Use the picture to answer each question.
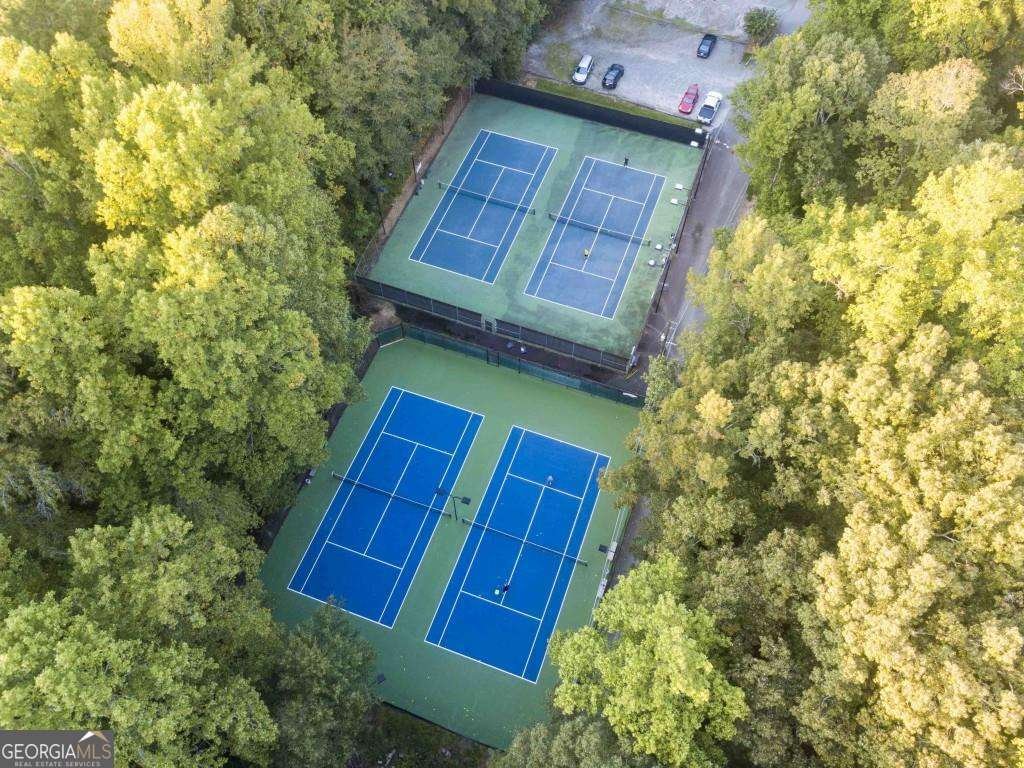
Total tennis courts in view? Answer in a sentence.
The count of tennis courts comes to 4.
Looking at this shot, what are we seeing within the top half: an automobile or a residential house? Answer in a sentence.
The feature located within the top half is an automobile.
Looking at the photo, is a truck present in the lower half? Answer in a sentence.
No, in the lower half there is no truck.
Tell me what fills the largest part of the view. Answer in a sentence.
The largest share of the image is taken up by trees.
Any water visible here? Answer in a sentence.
No, the picture contains no water.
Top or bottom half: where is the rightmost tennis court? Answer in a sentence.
The rightmost tennis court sits in the top half of the picture.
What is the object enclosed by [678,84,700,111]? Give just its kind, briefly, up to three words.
car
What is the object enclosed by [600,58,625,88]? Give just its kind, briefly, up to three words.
car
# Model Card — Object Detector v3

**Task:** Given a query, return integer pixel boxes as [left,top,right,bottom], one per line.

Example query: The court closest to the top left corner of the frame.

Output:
[409,129,558,284]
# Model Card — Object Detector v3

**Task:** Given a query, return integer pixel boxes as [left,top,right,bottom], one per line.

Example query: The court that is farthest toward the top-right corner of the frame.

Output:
[523,156,666,320]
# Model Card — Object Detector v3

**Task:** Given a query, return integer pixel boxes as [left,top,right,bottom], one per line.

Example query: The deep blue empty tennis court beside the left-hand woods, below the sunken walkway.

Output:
[288,386,485,629]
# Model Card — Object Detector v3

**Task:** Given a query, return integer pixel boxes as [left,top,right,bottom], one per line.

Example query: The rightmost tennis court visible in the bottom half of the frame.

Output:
[424,425,612,684]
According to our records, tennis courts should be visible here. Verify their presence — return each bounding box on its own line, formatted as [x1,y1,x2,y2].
[409,129,558,284]
[424,425,612,684]
[523,156,666,320]
[288,386,485,629]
